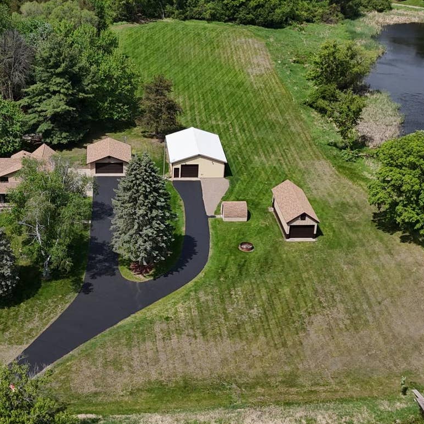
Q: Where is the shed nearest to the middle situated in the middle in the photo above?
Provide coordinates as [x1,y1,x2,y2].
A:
[222,204,248,221]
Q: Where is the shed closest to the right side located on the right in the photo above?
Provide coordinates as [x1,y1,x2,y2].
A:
[273,182,320,239]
